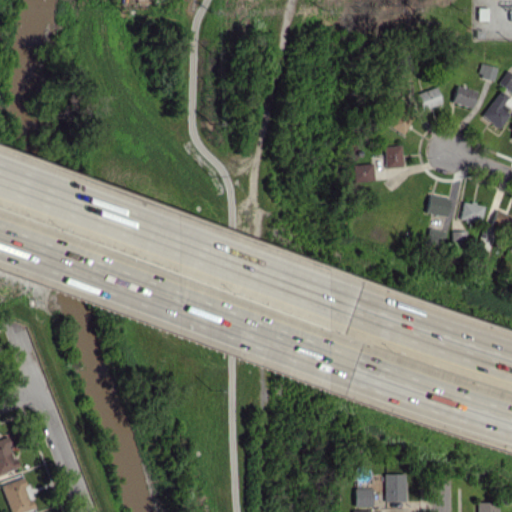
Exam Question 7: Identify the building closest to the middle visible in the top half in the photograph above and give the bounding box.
[354,164,376,183]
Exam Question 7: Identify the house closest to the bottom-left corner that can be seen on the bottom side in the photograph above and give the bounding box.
[2,478,37,512]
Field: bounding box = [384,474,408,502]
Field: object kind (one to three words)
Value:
house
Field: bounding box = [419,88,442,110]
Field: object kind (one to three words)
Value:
house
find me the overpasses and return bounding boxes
[0,144,512,455]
